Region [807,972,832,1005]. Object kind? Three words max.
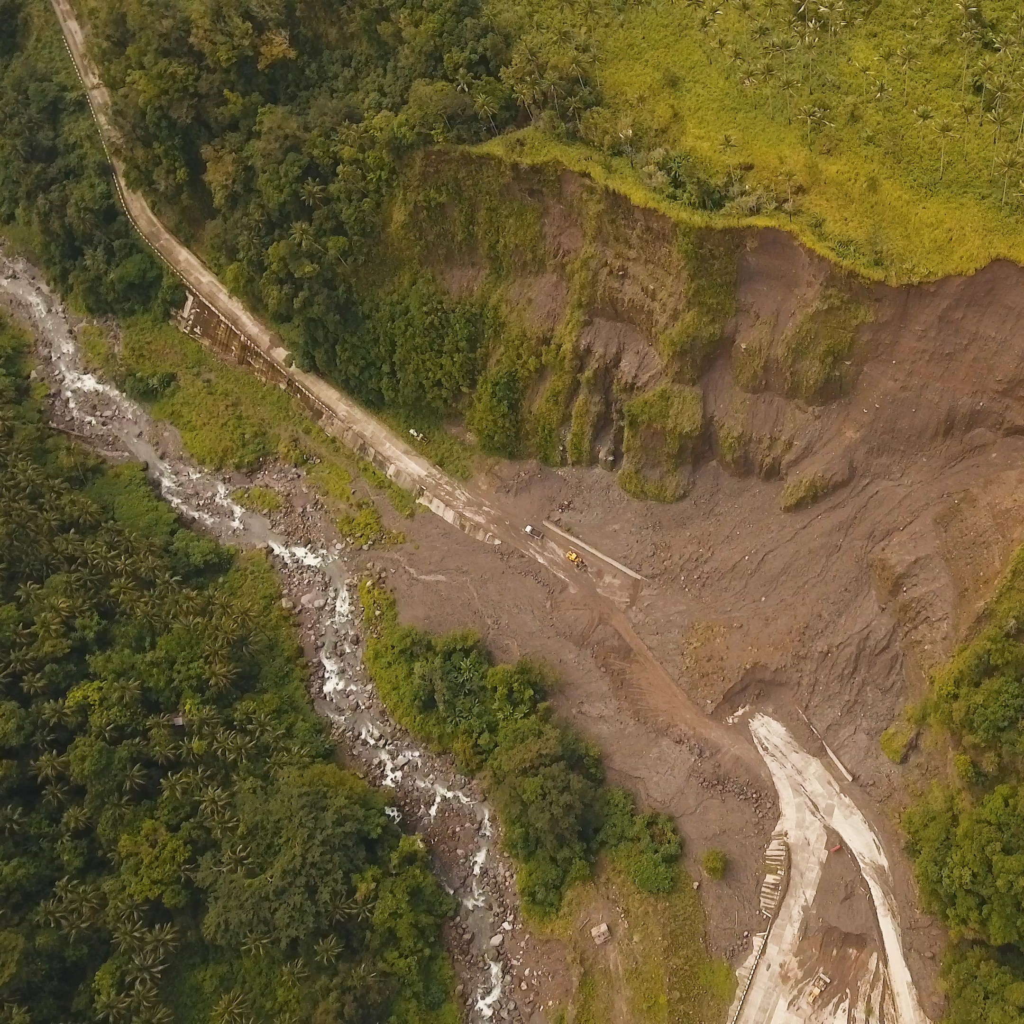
work vehicle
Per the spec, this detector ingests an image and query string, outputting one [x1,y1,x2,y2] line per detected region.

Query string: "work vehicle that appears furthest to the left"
[408,427,429,443]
